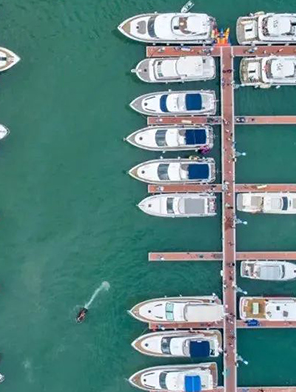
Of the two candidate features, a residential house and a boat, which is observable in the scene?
boat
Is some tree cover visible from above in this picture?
No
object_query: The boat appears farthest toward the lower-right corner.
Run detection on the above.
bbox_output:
[236,295,296,321]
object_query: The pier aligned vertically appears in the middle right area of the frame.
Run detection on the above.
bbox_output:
[220,46,236,392]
